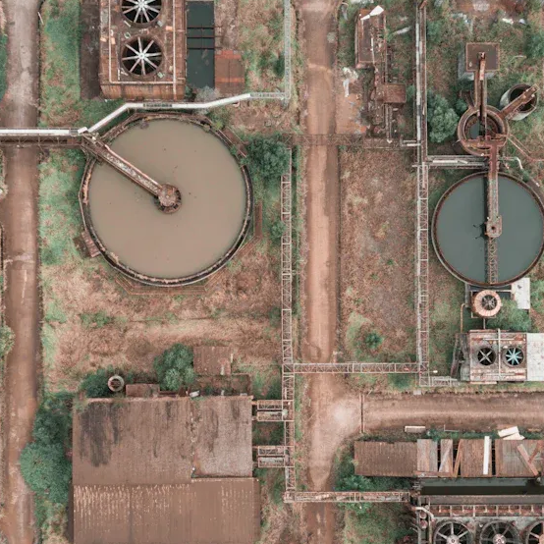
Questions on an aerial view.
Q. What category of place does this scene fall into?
industrial area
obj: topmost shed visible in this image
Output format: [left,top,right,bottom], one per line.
[193,347,231,374]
